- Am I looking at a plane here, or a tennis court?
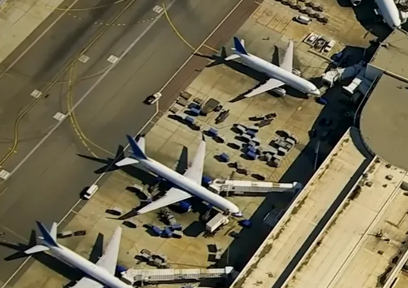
plane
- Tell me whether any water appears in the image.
No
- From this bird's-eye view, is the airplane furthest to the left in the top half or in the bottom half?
bottom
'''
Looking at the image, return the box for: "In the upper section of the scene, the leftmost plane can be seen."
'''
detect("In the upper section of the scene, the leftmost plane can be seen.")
[230,39,321,98]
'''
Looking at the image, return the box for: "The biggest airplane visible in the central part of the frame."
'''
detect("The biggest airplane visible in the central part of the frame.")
[116,130,243,216]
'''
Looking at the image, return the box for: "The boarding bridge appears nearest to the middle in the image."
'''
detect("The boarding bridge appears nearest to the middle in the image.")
[207,178,302,201]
